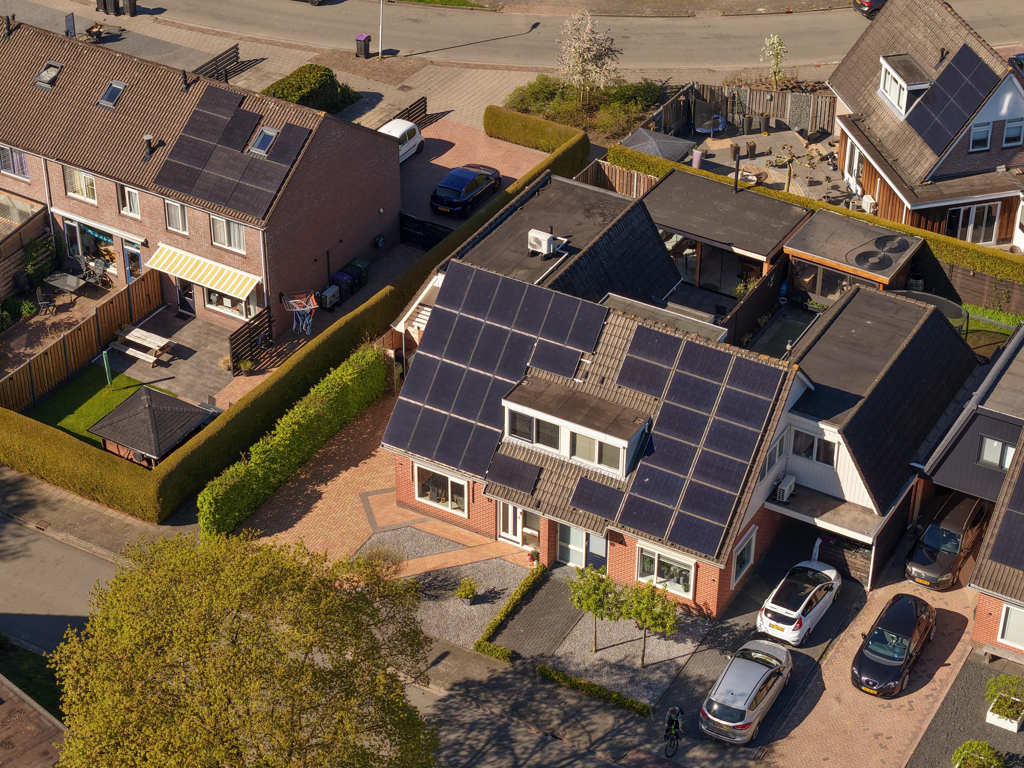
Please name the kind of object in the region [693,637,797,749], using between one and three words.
car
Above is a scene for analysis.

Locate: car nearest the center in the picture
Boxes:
[424,160,503,220]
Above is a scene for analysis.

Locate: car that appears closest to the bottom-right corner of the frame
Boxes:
[848,585,942,695]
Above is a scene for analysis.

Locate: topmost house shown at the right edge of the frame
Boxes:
[824,0,1024,253]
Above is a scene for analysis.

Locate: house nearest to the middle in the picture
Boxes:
[373,256,825,622]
